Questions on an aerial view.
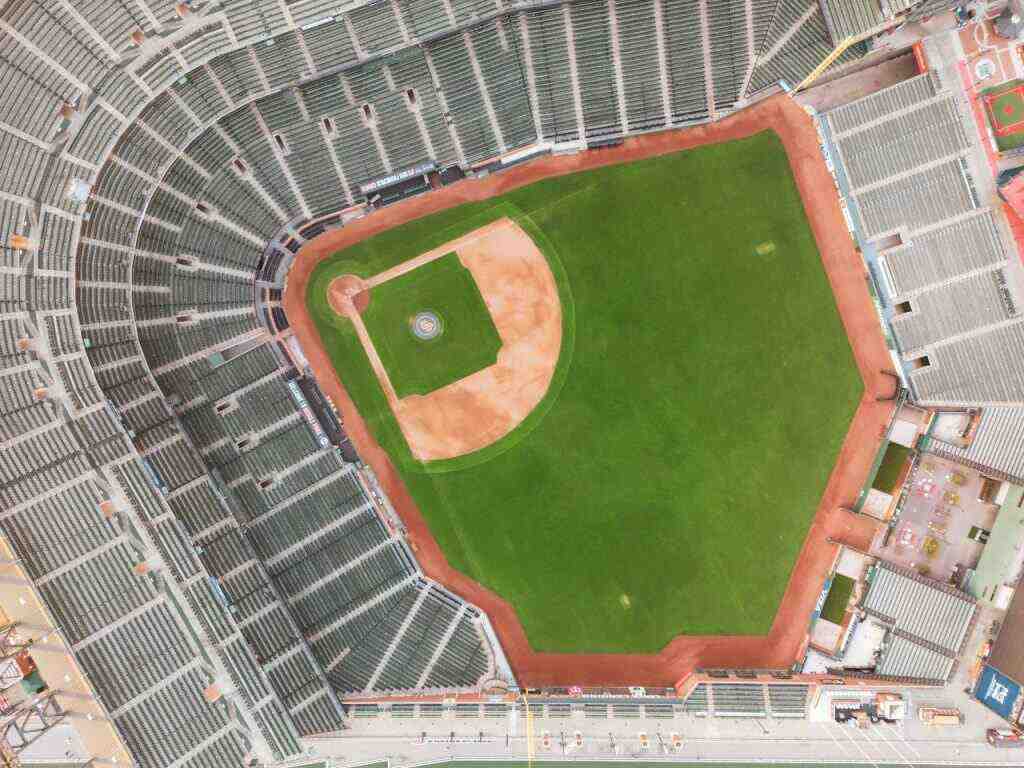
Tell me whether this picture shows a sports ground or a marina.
sports ground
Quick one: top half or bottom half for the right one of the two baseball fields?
top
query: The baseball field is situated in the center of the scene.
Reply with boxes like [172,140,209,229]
[284,94,904,687]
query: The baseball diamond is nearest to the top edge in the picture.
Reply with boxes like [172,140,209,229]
[982,76,1024,153]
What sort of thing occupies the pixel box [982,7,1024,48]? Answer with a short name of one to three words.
building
